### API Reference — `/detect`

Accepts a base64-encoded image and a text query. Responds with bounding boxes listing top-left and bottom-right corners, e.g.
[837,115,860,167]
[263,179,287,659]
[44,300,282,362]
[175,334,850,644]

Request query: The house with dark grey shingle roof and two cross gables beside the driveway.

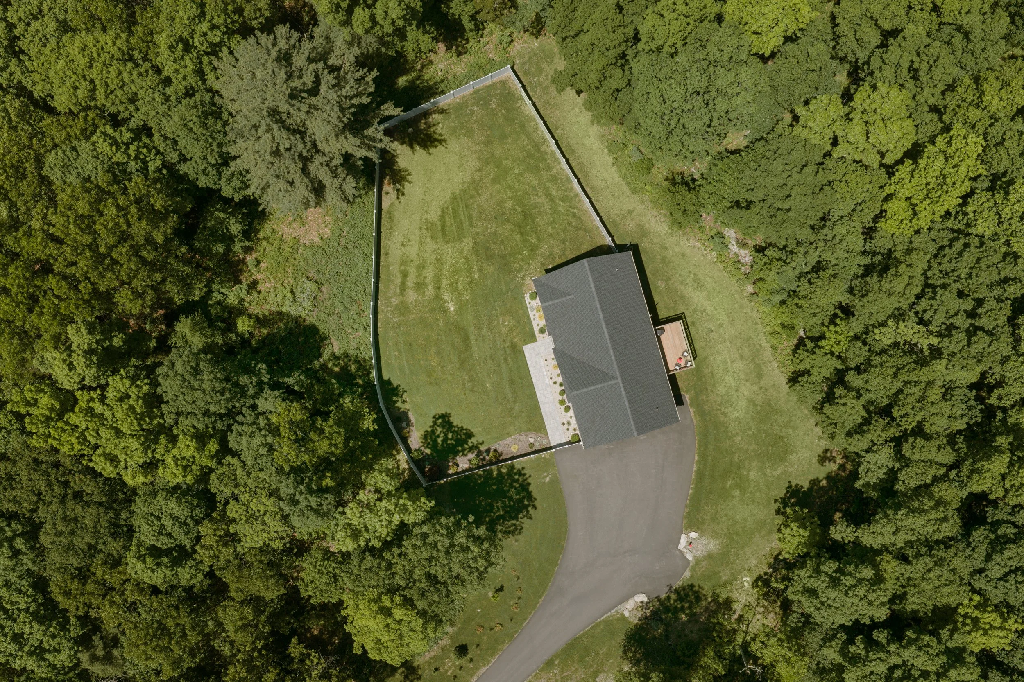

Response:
[531,251,684,450]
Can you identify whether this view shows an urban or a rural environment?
rural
